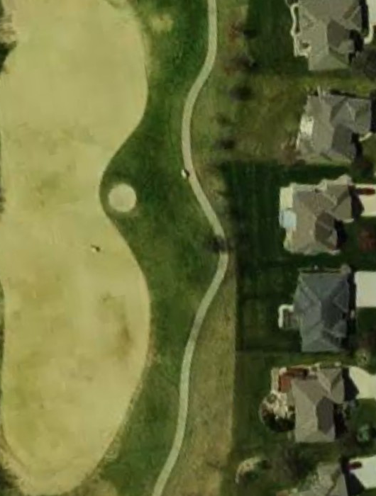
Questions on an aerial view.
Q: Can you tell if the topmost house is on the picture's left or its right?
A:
right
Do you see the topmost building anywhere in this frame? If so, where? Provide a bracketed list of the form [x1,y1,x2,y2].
[296,0,362,71]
